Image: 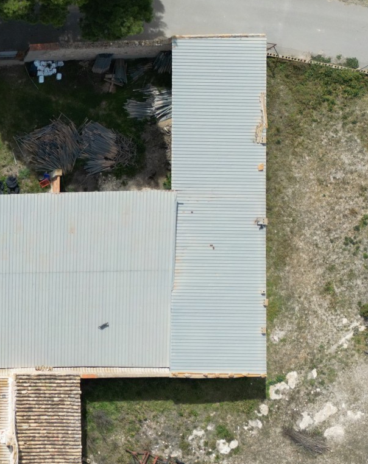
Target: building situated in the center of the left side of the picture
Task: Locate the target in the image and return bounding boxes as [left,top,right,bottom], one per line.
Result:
[0,191,177,368]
